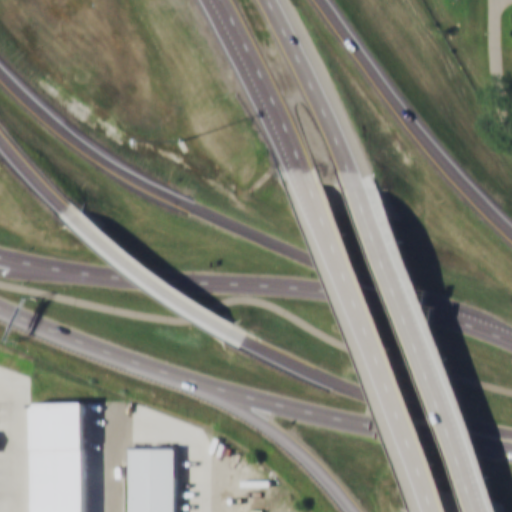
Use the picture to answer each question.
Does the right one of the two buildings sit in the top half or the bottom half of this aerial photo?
bottom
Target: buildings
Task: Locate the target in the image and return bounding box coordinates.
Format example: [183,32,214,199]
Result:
[28,402,82,512]
[127,448,175,512]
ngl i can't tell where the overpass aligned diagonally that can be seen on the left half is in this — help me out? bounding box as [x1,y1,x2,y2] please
[60,202,248,348]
